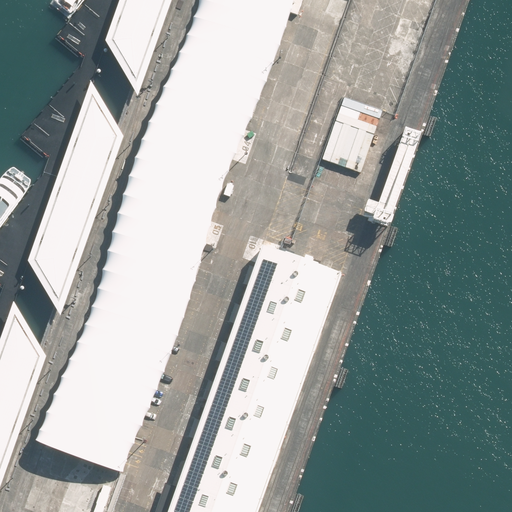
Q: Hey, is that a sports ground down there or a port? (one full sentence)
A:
This image shows a port.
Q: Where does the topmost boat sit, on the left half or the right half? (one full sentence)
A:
The topmost boat is on the left side of the image.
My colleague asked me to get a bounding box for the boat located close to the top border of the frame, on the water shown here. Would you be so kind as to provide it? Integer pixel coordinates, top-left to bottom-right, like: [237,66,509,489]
[49,0,84,20]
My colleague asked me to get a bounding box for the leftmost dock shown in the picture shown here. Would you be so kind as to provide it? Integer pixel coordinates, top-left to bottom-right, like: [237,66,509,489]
[0,0,120,340]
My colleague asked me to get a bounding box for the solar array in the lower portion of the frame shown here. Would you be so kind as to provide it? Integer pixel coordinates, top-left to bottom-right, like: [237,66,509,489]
[170,260,268,512]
